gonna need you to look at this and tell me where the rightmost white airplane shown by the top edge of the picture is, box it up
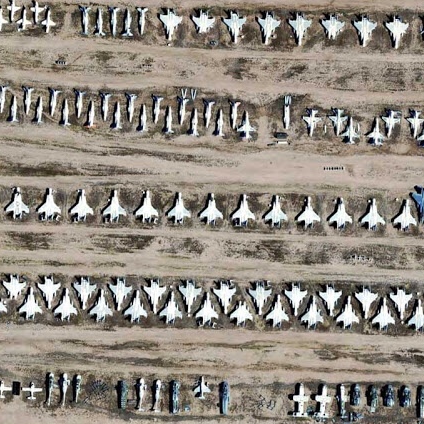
[386,16,409,48]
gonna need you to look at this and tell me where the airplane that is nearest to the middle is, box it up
[201,193,223,225]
